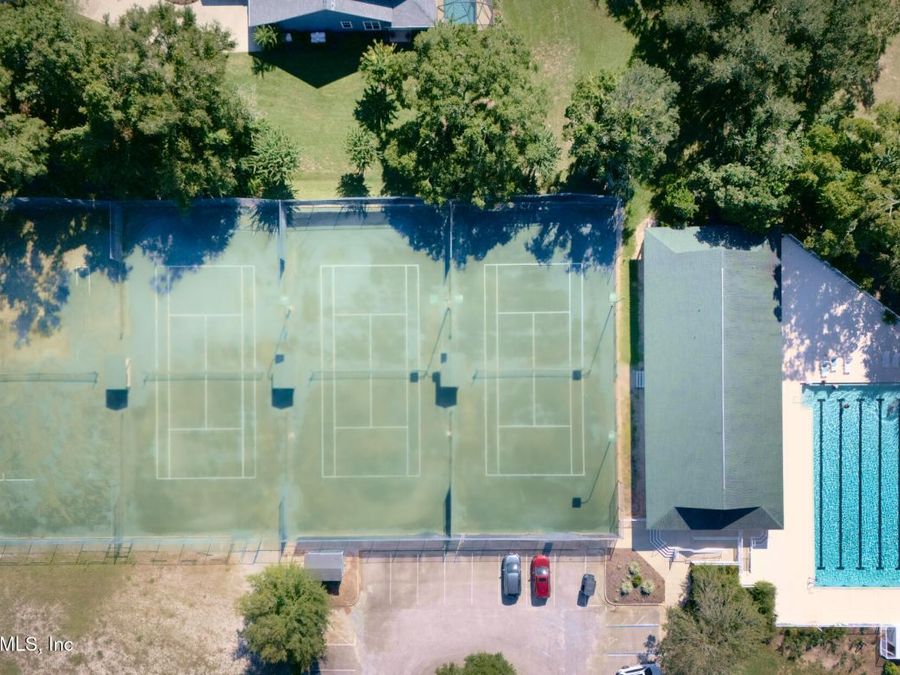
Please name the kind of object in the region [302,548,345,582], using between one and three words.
shed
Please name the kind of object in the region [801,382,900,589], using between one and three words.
swimming pool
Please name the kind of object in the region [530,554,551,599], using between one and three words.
car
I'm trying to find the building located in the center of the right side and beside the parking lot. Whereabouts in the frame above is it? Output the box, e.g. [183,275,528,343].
[642,228,789,530]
